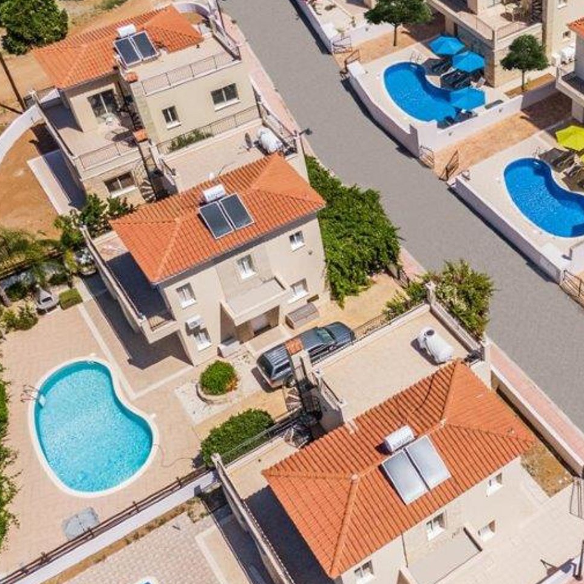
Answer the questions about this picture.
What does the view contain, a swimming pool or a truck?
swimming pool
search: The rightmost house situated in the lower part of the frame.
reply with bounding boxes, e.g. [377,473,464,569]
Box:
[209,280,536,584]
